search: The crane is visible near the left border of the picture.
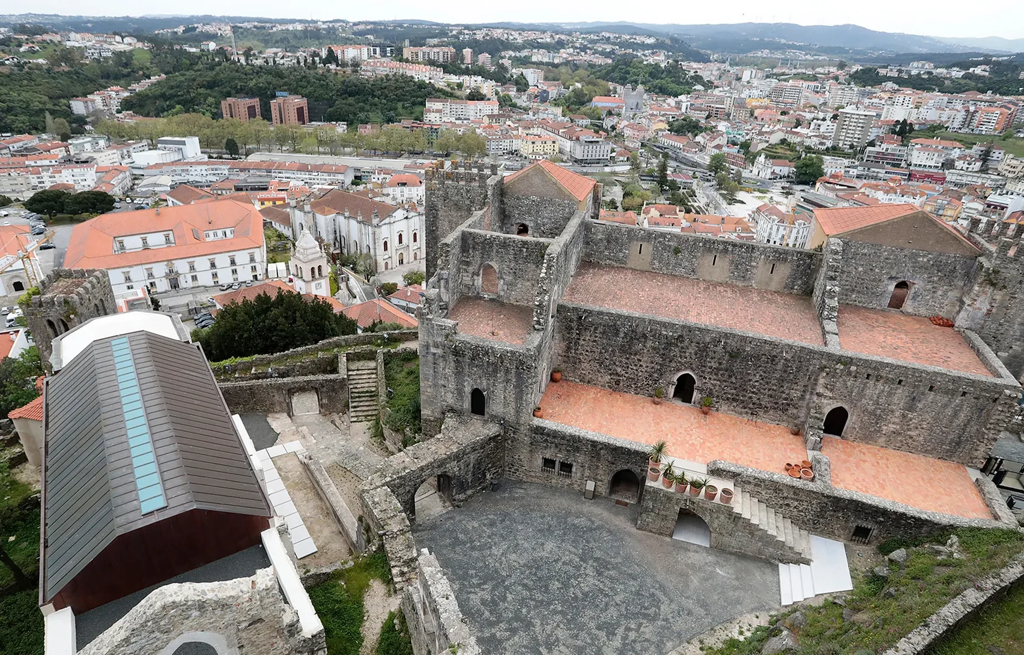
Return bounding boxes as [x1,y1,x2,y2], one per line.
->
[0,222,76,292]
